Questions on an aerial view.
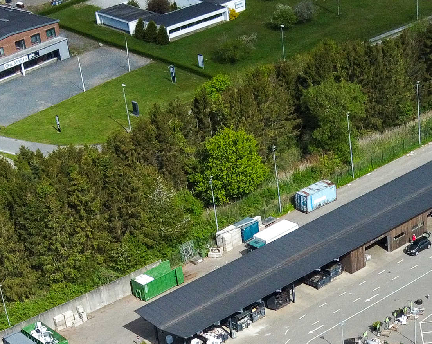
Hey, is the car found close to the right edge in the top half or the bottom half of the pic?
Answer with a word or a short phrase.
bottom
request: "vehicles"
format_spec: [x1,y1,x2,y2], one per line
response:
[245,219,306,256]
[405,230,432,255]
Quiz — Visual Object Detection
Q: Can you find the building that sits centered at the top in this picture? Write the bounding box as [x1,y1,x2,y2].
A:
[96,0,247,42]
